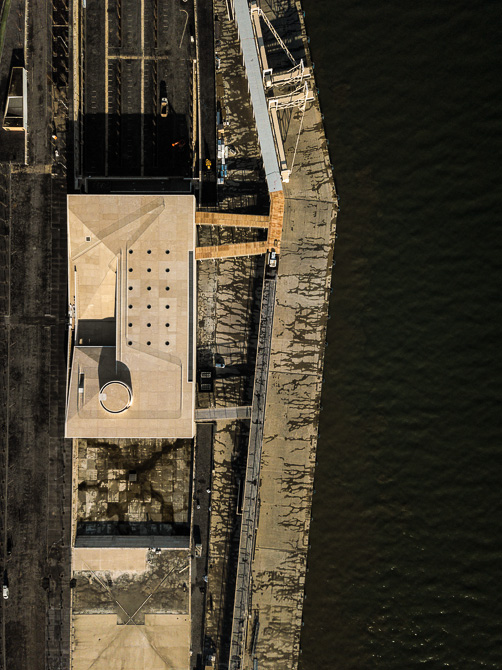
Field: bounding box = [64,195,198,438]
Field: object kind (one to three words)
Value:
building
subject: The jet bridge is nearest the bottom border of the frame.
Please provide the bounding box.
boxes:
[268,79,315,185]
